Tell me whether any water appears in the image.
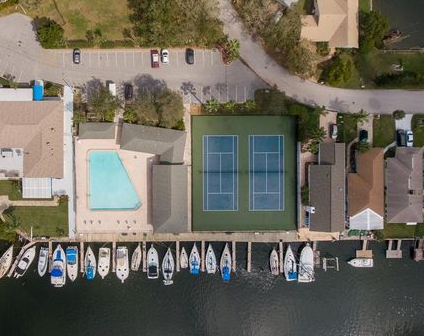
Yes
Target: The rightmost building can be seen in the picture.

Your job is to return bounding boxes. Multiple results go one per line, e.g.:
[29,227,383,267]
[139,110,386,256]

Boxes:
[384,147,424,225]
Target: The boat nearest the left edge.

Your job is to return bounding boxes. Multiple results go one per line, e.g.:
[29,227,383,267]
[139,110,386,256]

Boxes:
[0,244,13,278]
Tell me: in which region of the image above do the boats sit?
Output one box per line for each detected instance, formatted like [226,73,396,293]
[36,245,49,279]
[0,244,13,278]
[220,243,236,282]
[83,243,96,280]
[146,244,158,280]
[283,243,306,281]
[115,243,130,285]
[296,242,315,285]
[345,259,375,267]
[13,244,36,280]
[204,243,218,274]
[51,243,66,287]
[161,243,176,280]
[163,280,173,287]
[268,245,285,276]
[96,243,110,280]
[188,243,201,275]
[65,247,79,284]
[131,244,141,271]
[179,244,189,269]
